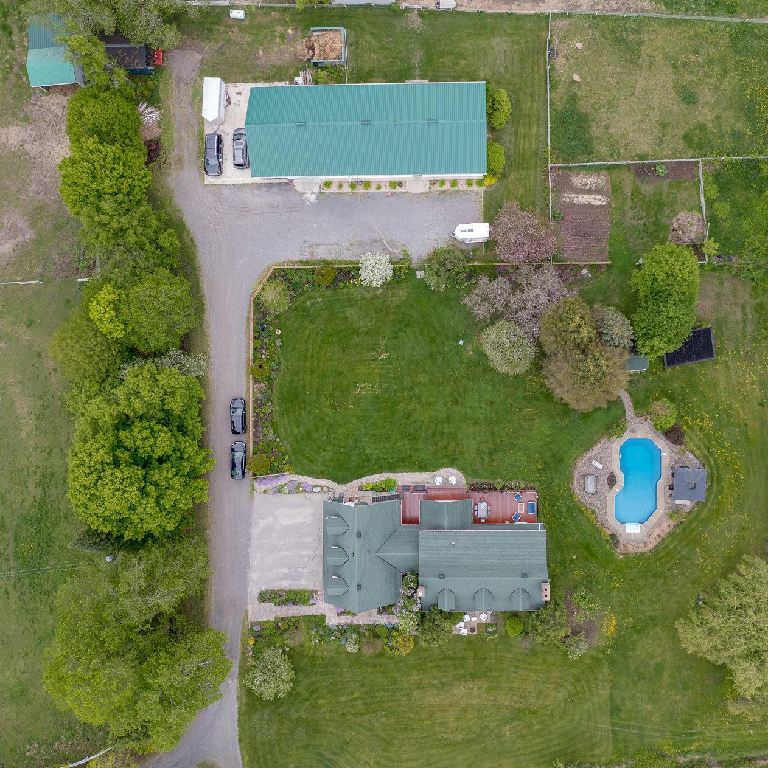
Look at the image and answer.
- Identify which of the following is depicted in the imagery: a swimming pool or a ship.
swimming pool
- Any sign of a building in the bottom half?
Yes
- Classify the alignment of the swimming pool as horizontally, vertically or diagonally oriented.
vertically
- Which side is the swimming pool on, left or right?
right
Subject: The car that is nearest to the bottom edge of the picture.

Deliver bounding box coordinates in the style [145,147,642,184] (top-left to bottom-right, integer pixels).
[229,443,246,478]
